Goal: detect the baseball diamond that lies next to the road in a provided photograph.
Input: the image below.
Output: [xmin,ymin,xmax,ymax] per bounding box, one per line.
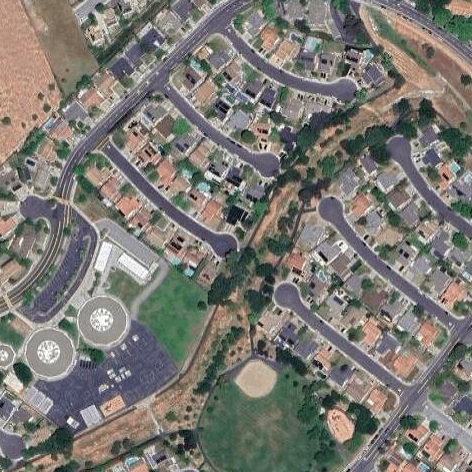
[199,355,329,472]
